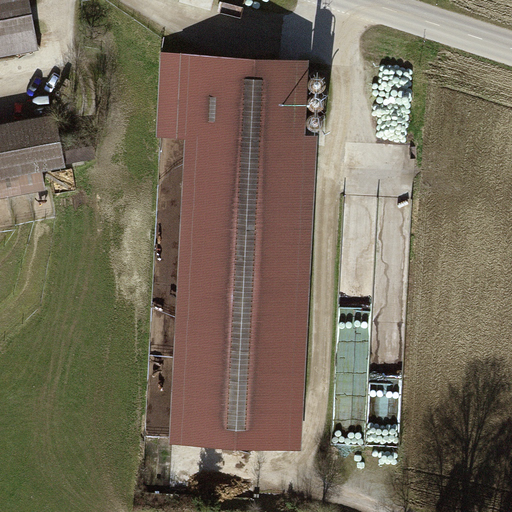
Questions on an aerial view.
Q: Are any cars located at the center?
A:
No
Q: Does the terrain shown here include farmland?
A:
Yes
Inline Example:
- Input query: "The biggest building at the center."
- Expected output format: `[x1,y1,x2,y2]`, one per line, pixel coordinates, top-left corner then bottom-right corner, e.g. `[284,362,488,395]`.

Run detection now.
[156,54,318,452]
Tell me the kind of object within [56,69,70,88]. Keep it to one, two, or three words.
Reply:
car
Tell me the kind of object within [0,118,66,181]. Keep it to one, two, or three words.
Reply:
house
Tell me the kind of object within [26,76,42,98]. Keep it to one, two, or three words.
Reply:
car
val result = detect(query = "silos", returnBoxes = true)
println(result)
[305,72,329,96]
[306,92,328,114]
[304,111,327,134]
